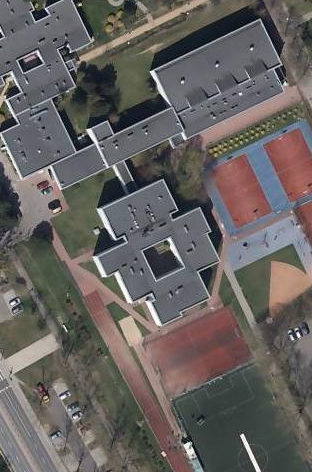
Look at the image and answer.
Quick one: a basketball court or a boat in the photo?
basketball court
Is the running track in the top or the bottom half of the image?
bottom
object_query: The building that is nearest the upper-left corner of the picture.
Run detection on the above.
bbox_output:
[0,0,97,115]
